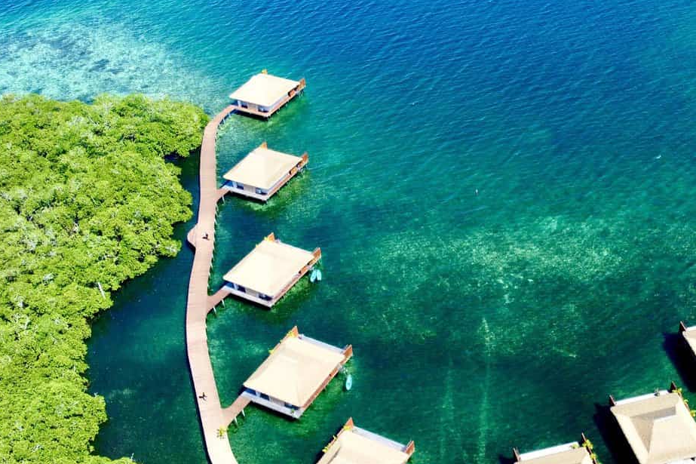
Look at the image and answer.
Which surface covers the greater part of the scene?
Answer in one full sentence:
What you mostly see from above here is water.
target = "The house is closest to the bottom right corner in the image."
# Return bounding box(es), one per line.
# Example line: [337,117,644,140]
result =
[608,383,696,464]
